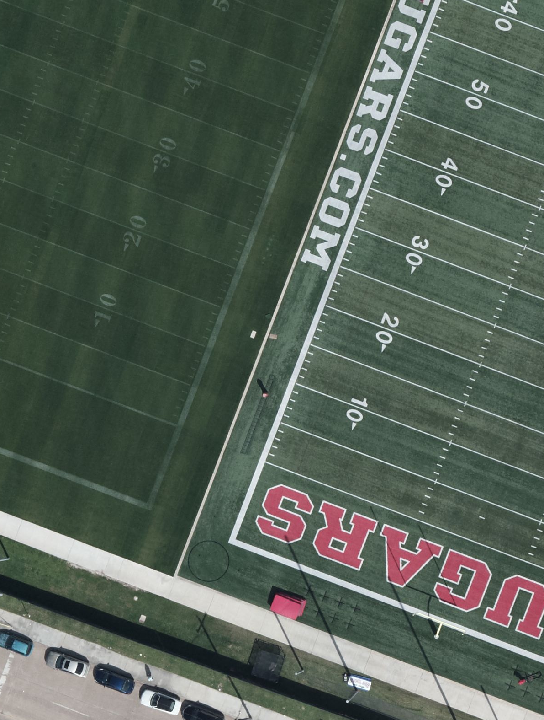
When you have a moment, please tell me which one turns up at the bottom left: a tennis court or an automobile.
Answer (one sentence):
What appears at the bottom left is an automobile.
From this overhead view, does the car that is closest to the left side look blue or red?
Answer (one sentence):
The color of the car that is closest to the left side is blue.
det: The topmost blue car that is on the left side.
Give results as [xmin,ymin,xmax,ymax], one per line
[0,632,33,658]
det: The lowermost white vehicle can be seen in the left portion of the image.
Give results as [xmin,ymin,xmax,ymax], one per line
[139,689,182,715]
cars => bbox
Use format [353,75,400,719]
[180,703,226,720]
[44,650,91,679]
[139,689,182,715]
[92,666,135,694]
[0,632,33,658]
